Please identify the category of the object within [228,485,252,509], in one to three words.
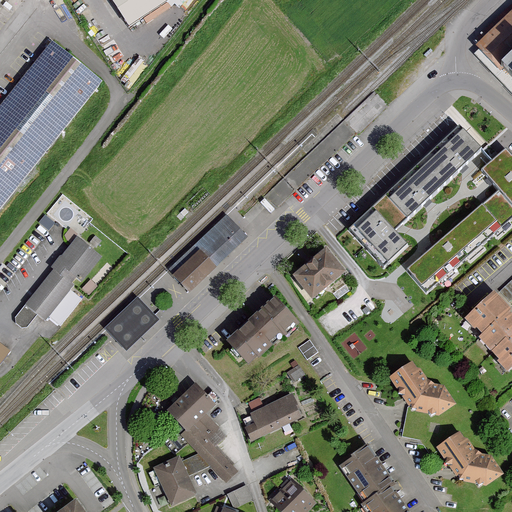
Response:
building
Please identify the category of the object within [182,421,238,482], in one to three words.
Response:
barn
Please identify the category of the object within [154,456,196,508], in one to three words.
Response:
house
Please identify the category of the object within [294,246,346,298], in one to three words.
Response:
house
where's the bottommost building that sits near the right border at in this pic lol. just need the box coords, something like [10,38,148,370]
[438,432,504,486]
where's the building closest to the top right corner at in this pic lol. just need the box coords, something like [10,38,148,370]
[476,9,512,76]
